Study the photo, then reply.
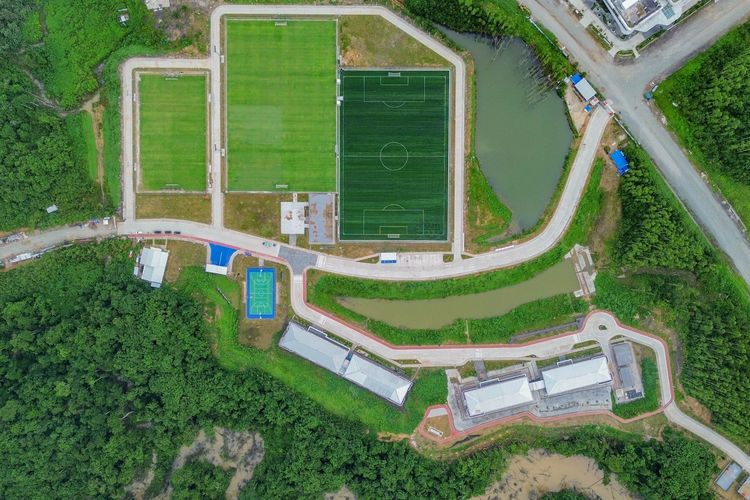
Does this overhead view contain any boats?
No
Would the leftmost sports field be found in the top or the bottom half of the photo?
top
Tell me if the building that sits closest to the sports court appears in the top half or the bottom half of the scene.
bottom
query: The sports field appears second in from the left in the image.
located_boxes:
[226,19,337,192]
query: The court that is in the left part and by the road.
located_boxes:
[246,267,275,319]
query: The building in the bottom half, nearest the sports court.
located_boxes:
[278,320,350,375]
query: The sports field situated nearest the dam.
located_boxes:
[339,70,450,242]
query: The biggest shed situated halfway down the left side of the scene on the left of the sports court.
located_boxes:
[140,247,168,288]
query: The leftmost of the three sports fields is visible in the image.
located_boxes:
[138,73,208,192]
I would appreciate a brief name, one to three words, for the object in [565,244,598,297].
dam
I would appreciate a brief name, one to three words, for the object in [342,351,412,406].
building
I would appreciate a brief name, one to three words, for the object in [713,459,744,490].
building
